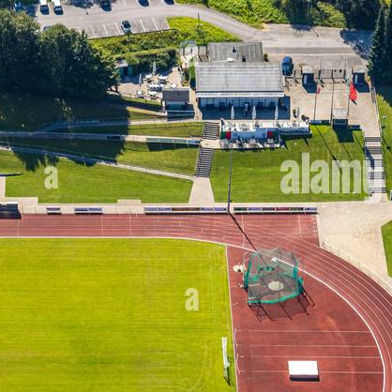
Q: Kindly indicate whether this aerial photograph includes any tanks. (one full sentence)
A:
No, I find no tank anywhere in the image.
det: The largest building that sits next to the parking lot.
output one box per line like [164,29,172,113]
[195,42,286,106]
